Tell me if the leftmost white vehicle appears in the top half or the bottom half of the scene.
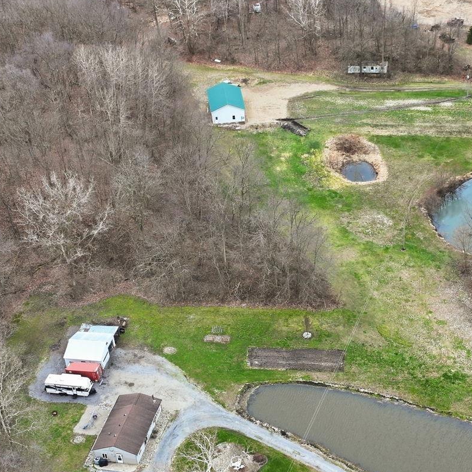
bottom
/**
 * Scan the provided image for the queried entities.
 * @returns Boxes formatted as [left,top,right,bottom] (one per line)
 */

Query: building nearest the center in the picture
[210,85,246,124]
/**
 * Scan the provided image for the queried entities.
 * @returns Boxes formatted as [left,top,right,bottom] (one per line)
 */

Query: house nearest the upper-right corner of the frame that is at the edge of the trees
[348,58,389,72]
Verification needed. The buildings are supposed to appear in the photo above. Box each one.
[210,85,246,124]
[62,330,114,369]
[348,58,389,72]
[89,392,156,464]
